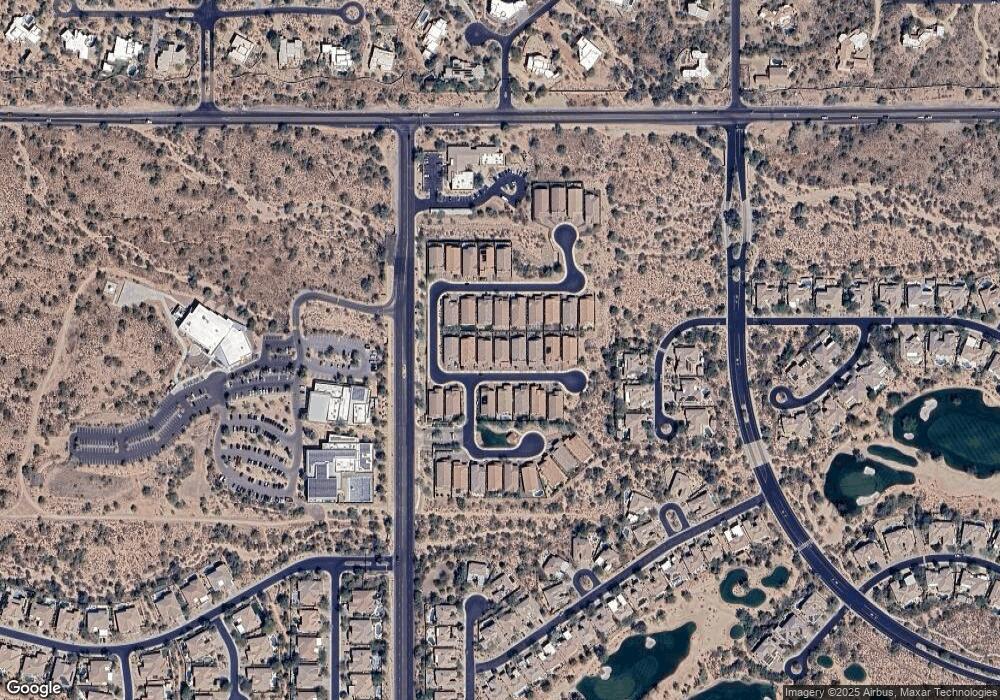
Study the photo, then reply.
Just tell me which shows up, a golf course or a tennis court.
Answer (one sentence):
The one in the frame is a golf course.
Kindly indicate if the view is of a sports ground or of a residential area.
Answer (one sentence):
This looks like a residential area.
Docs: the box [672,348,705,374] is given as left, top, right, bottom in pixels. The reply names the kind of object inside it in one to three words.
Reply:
house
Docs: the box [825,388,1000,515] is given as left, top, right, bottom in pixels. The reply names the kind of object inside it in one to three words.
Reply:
golf course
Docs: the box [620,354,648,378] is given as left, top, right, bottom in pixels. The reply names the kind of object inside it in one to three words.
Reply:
house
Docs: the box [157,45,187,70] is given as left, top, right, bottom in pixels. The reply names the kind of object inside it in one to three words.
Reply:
building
